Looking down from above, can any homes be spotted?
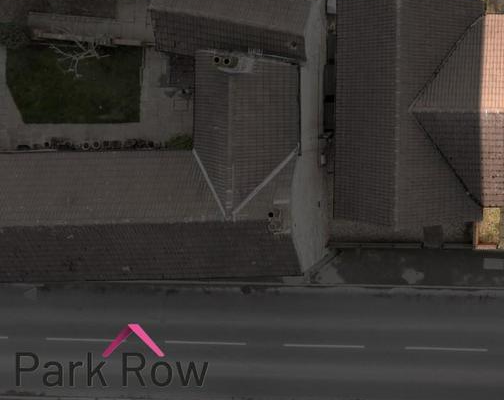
Yes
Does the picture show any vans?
No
